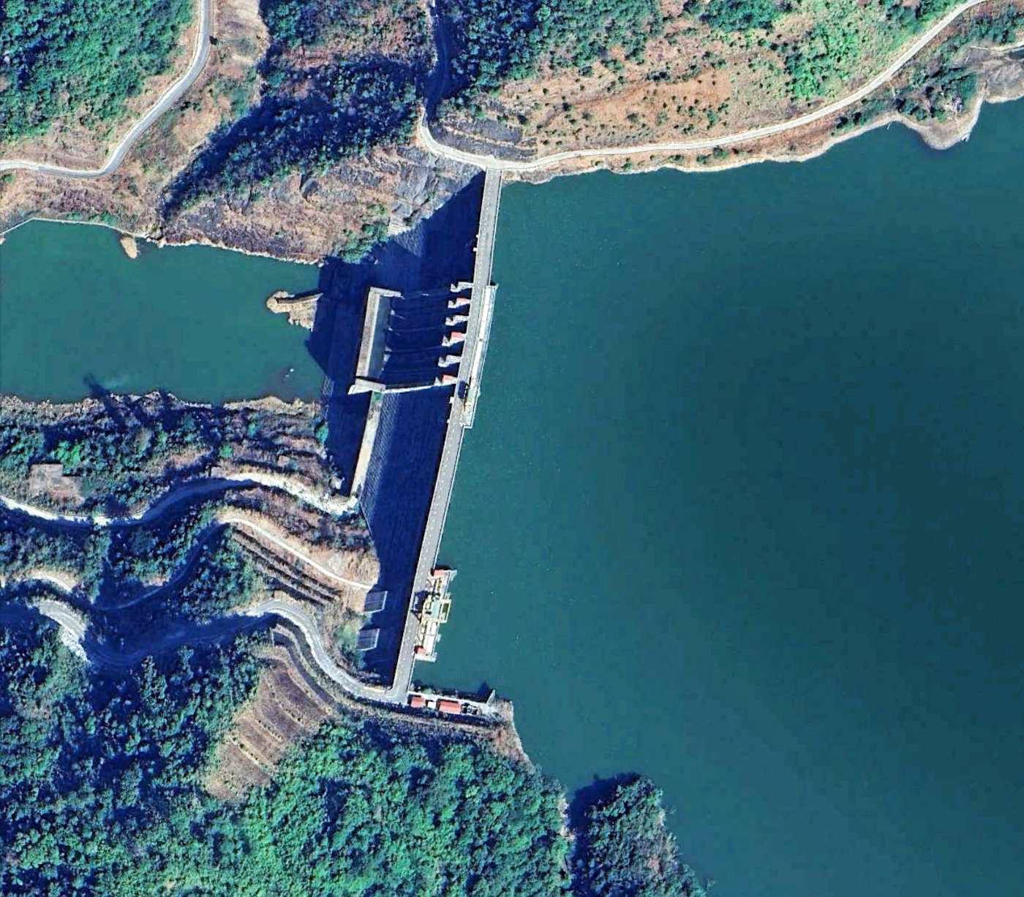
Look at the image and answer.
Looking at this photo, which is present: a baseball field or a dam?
dam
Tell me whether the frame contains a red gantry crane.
No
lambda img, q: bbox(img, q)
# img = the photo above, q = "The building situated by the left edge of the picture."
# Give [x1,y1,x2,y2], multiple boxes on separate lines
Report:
[30,464,63,491]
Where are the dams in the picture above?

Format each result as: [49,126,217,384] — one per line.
[346,168,502,702]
